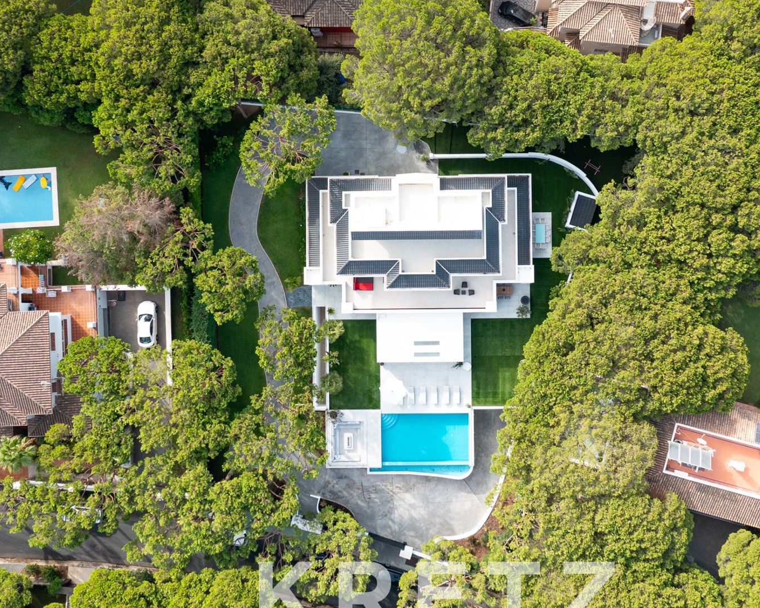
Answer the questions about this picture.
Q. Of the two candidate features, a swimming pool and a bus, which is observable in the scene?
swimming pool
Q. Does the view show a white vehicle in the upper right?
No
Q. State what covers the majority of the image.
trees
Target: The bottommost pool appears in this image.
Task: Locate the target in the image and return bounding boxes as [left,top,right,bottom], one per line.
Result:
[367,466,474,480]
